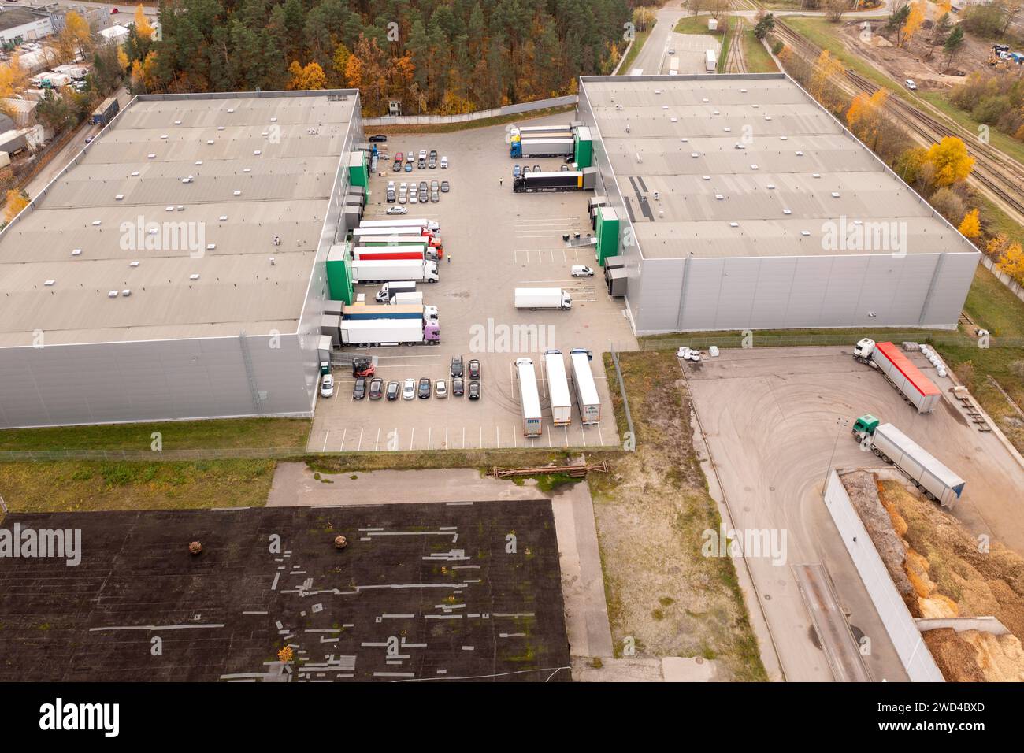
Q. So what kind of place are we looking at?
industrial area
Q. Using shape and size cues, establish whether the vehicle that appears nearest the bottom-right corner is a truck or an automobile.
truck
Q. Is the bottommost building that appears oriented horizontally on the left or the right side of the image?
left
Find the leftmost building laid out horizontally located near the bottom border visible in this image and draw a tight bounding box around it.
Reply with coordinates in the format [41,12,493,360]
[0,499,580,753]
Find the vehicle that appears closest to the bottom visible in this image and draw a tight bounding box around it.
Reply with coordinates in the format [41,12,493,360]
[856,421,966,509]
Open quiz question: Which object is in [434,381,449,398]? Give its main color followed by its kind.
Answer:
white car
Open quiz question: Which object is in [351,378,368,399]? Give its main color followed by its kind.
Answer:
gray car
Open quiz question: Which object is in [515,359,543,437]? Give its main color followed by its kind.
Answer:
white truck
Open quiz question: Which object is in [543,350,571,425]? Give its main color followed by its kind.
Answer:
white truck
